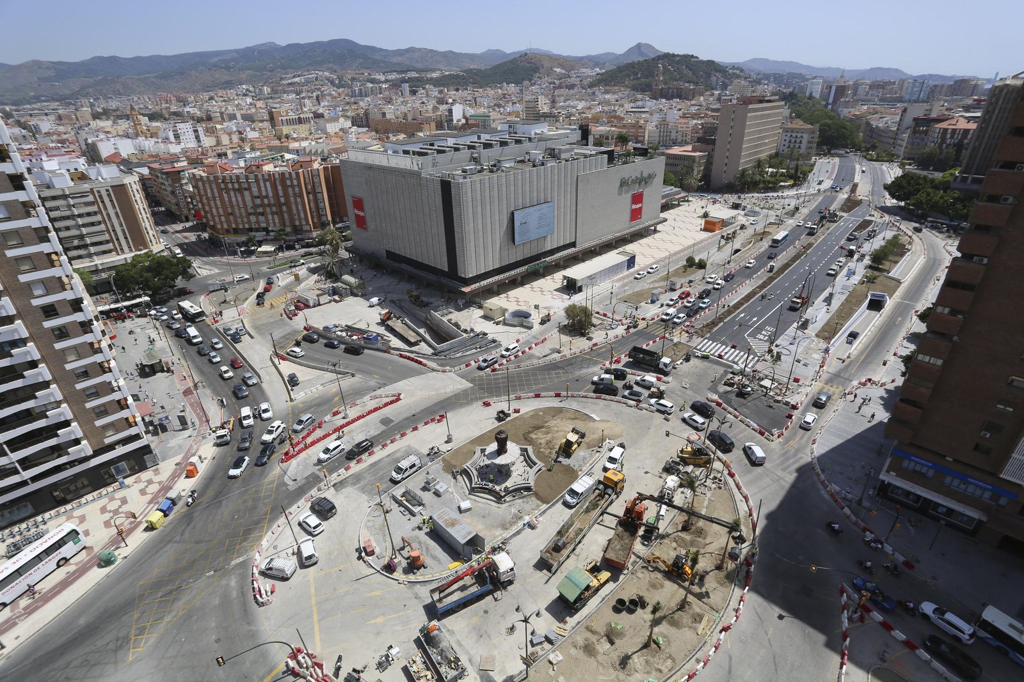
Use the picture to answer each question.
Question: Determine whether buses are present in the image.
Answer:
Yes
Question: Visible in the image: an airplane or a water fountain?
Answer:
water fountain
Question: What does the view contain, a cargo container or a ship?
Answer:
cargo container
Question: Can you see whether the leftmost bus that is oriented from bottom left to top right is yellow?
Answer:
No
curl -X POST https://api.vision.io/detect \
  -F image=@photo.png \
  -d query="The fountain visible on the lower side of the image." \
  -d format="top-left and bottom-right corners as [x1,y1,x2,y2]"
[457,424,551,502]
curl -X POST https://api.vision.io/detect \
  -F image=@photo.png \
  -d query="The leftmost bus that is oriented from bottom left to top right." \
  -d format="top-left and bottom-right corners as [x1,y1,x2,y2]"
[0,522,85,607]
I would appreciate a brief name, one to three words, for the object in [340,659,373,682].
work vehicle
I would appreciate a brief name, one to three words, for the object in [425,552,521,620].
truck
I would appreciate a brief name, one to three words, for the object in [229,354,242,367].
vehicle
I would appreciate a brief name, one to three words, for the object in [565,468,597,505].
van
